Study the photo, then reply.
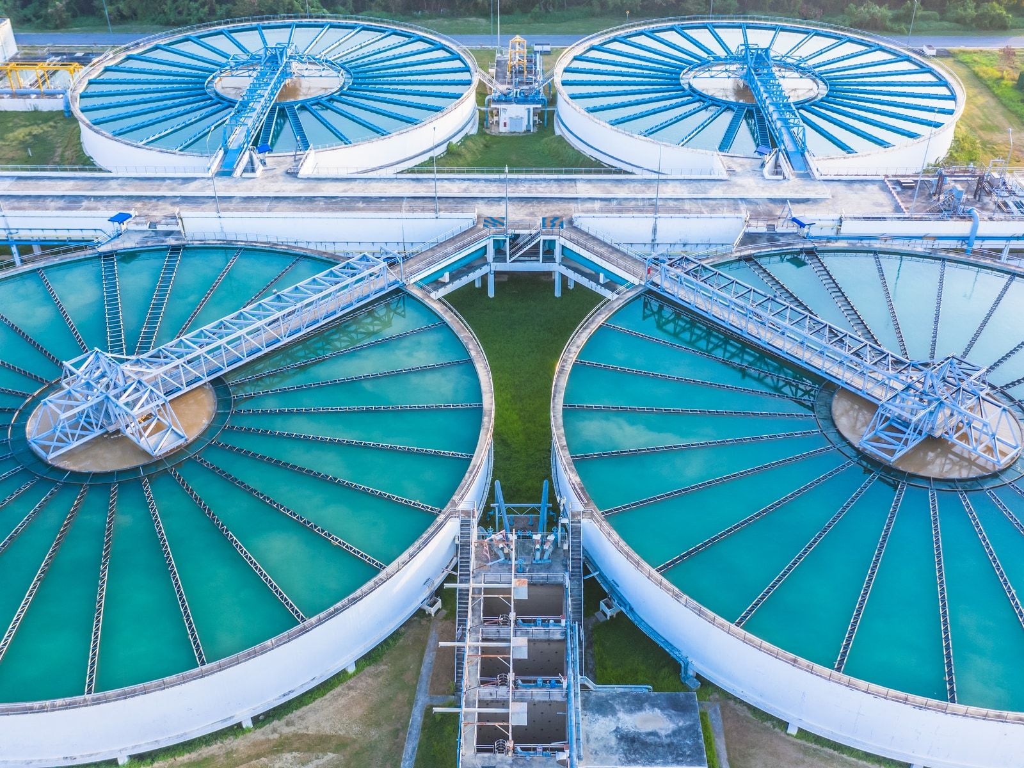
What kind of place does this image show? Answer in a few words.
industrial area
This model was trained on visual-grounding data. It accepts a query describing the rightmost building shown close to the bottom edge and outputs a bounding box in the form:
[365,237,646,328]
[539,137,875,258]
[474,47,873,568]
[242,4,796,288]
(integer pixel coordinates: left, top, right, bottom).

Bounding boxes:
[578,692,706,768]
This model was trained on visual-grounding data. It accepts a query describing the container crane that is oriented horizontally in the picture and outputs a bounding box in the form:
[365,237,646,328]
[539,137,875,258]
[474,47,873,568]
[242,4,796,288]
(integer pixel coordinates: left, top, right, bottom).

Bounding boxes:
[0,58,87,88]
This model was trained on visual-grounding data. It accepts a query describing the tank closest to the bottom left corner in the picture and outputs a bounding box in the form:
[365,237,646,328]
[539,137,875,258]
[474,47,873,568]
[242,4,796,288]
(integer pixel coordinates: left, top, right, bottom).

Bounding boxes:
[0,228,496,768]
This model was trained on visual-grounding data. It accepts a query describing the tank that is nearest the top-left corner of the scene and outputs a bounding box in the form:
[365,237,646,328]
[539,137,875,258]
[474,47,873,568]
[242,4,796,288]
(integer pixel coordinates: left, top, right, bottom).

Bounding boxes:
[71,11,483,173]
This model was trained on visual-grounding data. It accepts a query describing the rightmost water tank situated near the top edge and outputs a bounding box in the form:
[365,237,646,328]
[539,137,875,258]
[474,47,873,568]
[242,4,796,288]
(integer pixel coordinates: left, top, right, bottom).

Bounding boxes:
[553,15,969,180]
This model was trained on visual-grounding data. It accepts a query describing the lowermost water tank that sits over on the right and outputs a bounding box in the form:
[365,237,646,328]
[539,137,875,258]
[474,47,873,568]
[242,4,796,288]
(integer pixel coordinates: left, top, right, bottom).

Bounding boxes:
[548,235,1024,768]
